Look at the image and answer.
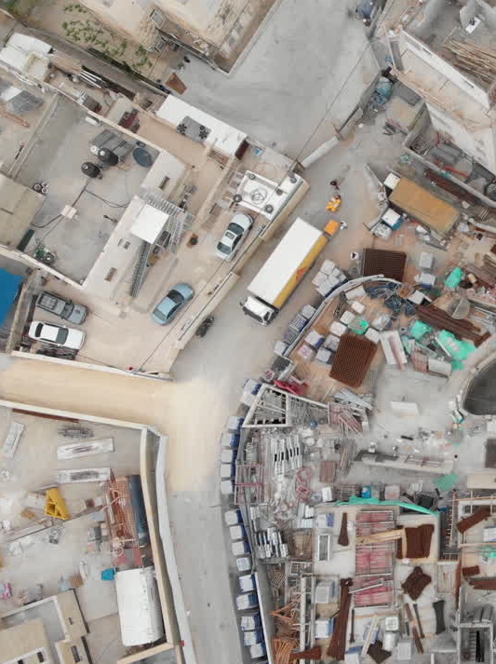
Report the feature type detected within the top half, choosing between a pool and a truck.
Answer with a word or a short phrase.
truck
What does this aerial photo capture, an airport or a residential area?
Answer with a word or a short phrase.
residential area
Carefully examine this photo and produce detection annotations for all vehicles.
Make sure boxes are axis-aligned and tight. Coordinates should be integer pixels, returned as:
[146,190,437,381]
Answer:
[27,320,88,351]
[199,317,213,335]
[150,283,197,326]
[30,291,91,325]
[243,218,335,322]
[217,212,253,260]
[383,168,463,236]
